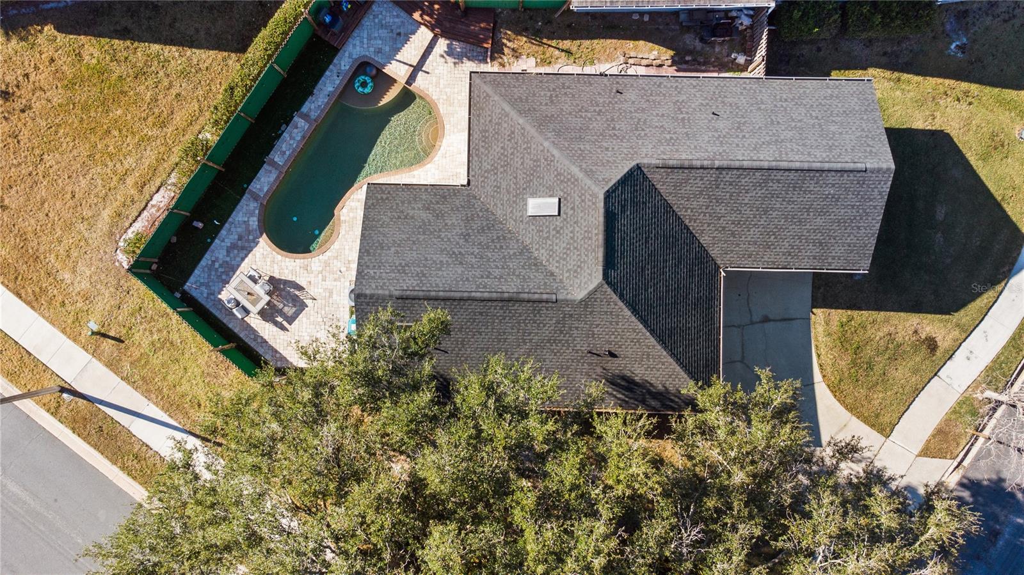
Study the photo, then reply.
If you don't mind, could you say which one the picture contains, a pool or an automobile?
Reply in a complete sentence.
There is a pool in the scene.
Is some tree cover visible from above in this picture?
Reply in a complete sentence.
Yes, there is tree cover in the image.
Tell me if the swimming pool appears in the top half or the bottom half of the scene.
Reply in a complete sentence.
It is in the top half that the swimming pool appears.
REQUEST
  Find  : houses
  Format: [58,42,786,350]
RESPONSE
[571,0,790,19]
[354,71,896,411]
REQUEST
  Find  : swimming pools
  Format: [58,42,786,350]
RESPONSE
[258,55,445,259]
